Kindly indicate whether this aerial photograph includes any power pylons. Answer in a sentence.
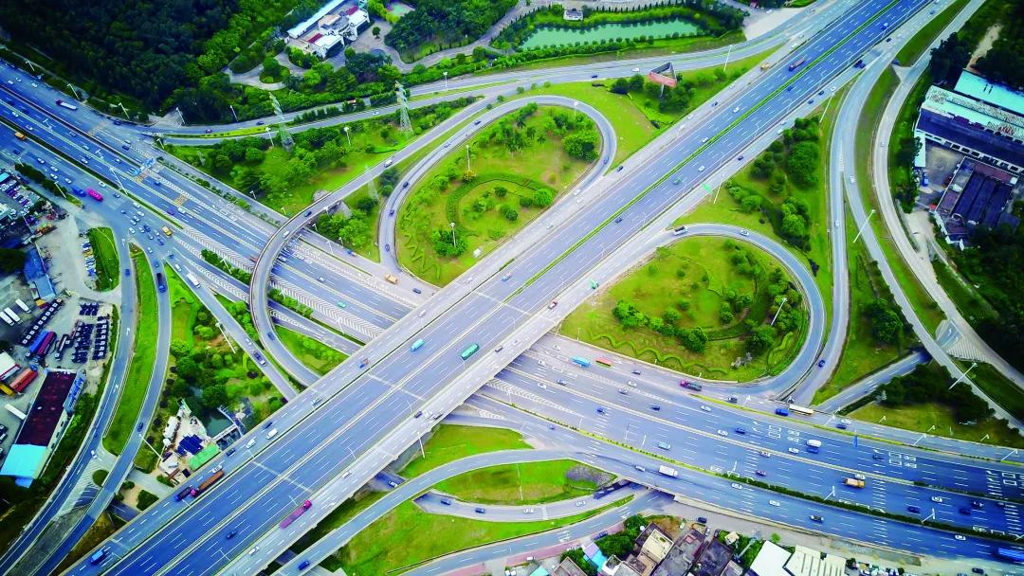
Yes, there's a power pylon here.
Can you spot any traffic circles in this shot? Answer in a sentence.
No, there is no traffic circle in the image.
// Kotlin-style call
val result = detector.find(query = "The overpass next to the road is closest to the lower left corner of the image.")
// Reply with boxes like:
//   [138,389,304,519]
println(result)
[24,241,171,576]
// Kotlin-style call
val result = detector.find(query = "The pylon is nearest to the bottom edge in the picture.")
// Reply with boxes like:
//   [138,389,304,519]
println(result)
[359,165,382,201]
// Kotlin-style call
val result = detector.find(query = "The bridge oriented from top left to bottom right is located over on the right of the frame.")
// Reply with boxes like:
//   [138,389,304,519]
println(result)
[843,150,1024,447]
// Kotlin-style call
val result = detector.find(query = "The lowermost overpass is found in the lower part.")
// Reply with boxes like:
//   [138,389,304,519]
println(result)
[271,448,597,576]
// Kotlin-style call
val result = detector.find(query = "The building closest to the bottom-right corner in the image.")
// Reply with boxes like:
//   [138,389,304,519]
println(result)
[782,546,846,576]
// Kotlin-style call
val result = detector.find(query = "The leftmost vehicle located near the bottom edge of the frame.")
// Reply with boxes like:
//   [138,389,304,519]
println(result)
[86,546,106,564]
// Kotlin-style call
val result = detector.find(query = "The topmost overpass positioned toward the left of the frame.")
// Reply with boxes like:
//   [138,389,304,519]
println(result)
[250,92,505,386]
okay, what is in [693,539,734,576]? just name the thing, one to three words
house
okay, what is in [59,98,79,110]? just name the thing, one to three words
vehicle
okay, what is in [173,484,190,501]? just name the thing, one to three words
vehicle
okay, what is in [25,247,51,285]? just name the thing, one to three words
shed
